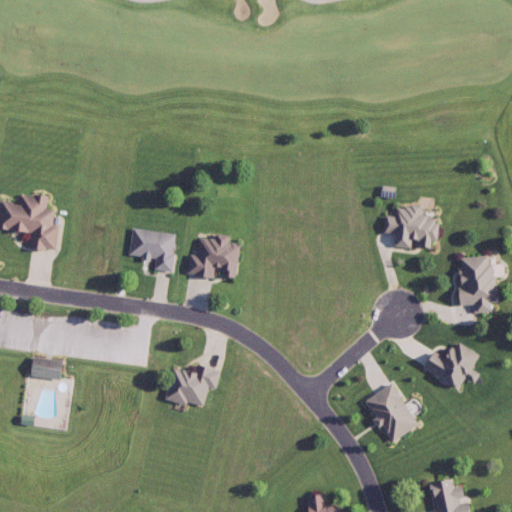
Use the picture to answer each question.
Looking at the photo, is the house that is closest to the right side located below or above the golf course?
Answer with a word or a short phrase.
below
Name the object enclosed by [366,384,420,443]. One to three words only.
house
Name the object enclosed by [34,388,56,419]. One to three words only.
swimming pool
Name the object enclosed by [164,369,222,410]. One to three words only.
house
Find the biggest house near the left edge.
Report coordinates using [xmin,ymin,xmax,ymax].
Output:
[1,194,57,251]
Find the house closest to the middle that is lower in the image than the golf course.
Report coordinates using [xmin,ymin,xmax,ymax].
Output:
[186,235,242,280]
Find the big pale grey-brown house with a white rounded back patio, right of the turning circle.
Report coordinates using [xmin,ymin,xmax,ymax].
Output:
[460,256,496,314]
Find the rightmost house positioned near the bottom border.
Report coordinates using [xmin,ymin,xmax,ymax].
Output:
[430,479,472,512]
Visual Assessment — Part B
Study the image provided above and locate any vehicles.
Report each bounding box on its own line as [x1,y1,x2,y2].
[338,368,348,377]
[211,356,218,366]
[374,309,380,320]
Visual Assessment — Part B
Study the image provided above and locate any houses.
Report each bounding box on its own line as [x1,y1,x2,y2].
[164,369,222,410]
[460,256,496,314]
[1,194,57,251]
[129,229,176,272]
[306,494,338,512]
[186,235,242,280]
[386,197,442,250]
[430,479,472,512]
[421,345,483,396]
[366,384,420,443]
